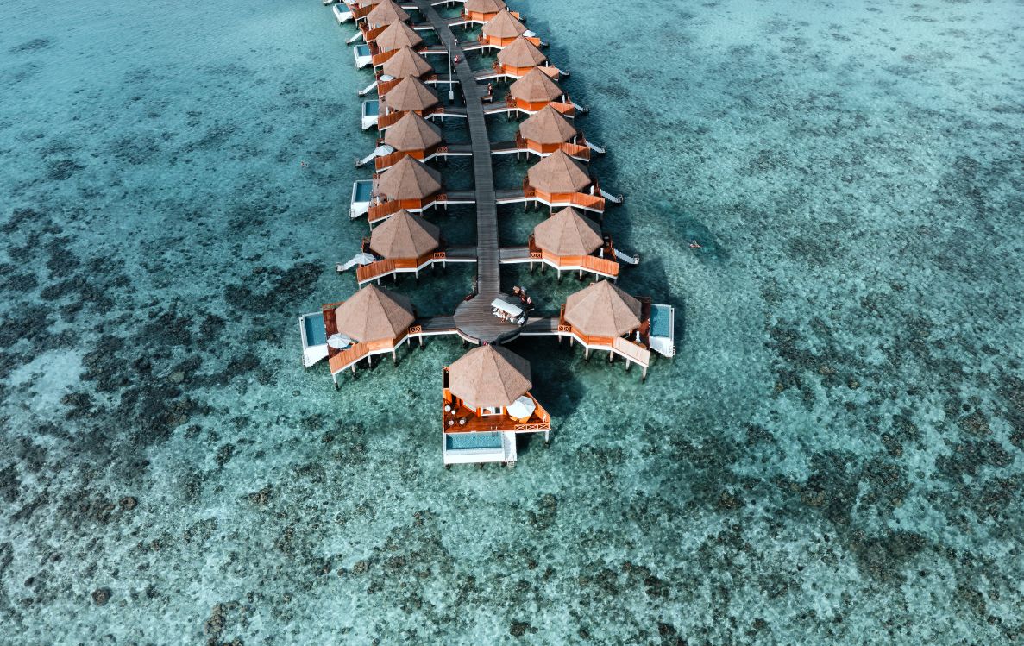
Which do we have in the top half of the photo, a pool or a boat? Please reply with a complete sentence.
Visible in the top half of the photo is a pool.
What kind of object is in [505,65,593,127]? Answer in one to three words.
house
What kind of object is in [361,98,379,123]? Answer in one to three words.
swimming pool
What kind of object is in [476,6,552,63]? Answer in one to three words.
house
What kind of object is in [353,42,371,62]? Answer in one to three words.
swimming pool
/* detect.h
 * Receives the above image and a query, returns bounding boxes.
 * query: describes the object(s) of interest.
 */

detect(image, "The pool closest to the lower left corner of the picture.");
[300,311,328,357]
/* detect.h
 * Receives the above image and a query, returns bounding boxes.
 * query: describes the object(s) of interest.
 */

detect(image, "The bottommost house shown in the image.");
[443,344,554,478]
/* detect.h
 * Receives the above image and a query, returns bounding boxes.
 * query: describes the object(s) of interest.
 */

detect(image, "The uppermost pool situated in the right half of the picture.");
[650,303,676,346]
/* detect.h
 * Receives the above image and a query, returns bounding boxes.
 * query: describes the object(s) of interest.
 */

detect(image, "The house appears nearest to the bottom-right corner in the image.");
[556,280,676,387]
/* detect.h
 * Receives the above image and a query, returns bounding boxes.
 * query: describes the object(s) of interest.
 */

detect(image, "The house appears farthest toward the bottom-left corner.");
[303,284,424,395]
